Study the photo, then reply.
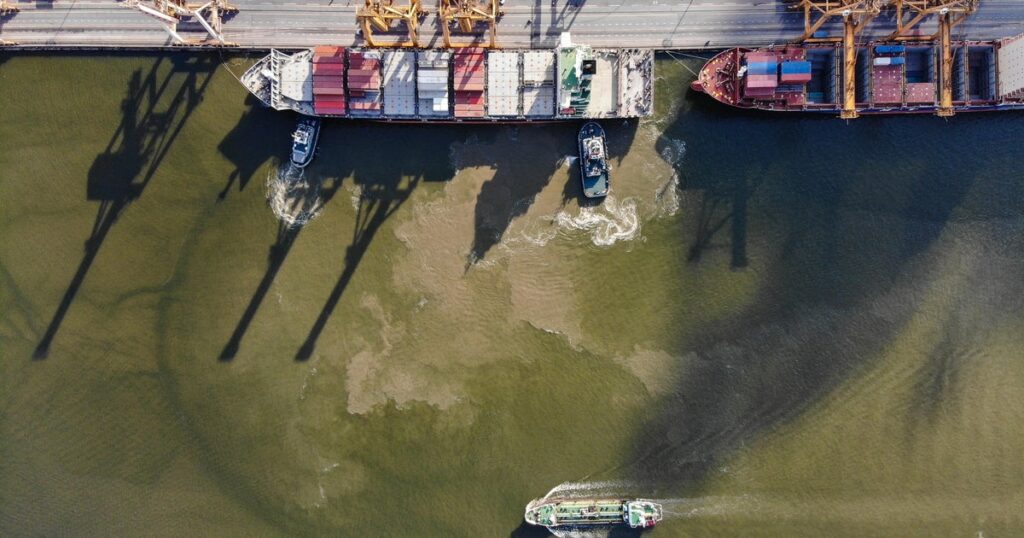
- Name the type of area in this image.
port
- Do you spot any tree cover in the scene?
No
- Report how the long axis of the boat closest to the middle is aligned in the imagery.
up and down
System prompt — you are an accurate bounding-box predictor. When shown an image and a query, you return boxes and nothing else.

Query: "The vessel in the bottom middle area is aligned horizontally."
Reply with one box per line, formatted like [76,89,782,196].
[527,498,662,532]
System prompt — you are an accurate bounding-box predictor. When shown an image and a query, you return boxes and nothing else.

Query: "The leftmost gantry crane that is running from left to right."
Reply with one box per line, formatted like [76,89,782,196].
[129,0,239,46]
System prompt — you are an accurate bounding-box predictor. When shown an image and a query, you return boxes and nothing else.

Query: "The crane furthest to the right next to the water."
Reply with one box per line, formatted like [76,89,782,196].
[871,0,980,127]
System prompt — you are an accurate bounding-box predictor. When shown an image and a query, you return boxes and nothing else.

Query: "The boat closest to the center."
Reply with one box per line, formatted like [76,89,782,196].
[577,122,612,199]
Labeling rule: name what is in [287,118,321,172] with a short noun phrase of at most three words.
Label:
boat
